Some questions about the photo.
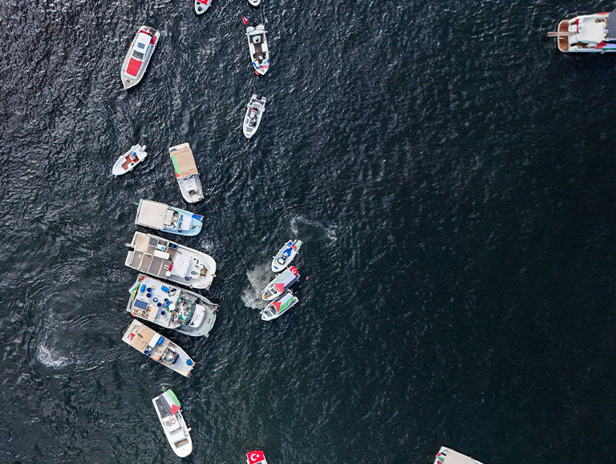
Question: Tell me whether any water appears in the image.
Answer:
Yes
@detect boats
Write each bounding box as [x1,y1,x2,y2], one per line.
[245,91,268,142]
[263,265,300,299]
[125,233,216,288]
[262,289,297,320]
[153,388,191,458]
[124,25,159,91]
[122,319,195,378]
[111,144,146,175]
[135,200,203,234]
[247,23,271,75]
[432,446,485,464]
[127,276,220,331]
[169,144,199,203]
[273,238,301,271]
[543,12,616,54]
[195,0,212,15]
